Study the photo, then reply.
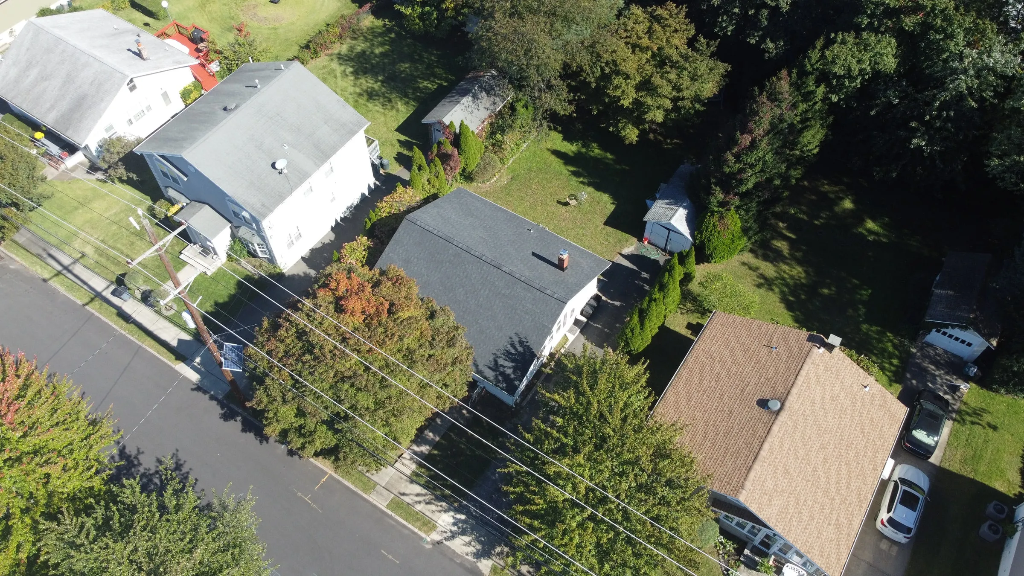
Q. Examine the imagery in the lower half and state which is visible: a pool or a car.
car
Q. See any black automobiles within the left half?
No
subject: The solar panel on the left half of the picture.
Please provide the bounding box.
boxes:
[222,342,244,372]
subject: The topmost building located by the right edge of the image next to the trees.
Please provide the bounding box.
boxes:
[917,251,1018,364]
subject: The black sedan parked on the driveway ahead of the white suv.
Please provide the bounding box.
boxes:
[898,382,949,460]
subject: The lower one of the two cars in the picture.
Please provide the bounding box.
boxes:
[871,460,932,547]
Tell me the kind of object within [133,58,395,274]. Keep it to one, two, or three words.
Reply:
house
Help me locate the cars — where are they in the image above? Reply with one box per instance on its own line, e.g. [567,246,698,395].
[898,382,949,460]
[871,460,932,547]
